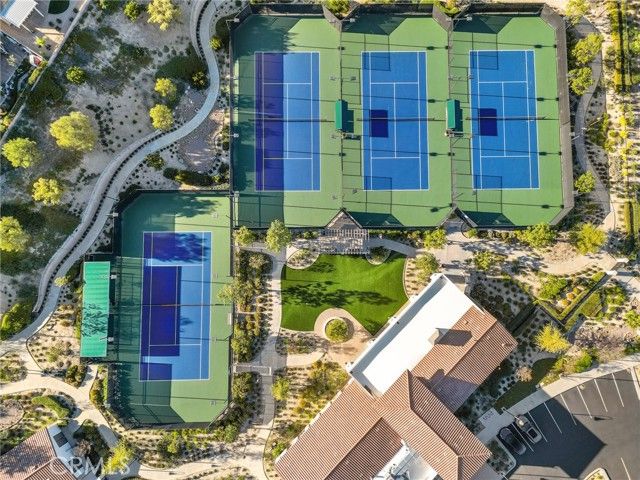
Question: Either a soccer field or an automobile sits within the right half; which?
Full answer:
It is an automobile that can be seen within the right half.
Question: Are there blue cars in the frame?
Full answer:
No, no blue car is visible in the view.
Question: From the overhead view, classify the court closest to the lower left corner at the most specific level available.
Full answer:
Looking closely, the court closest to the lower left corner is a tennis court.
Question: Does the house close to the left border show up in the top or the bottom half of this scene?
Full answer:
The house close to the left border sits in the bottom half of the picture.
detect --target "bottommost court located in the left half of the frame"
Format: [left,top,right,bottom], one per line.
[118,194,232,424]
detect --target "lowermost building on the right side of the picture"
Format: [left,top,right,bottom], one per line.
[274,272,518,480]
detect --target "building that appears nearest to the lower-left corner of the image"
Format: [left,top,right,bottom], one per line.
[0,416,108,480]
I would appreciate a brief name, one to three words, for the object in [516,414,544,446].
car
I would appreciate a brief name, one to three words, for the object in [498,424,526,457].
car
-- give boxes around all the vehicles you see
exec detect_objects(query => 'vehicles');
[516,414,544,446]
[498,424,526,457]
